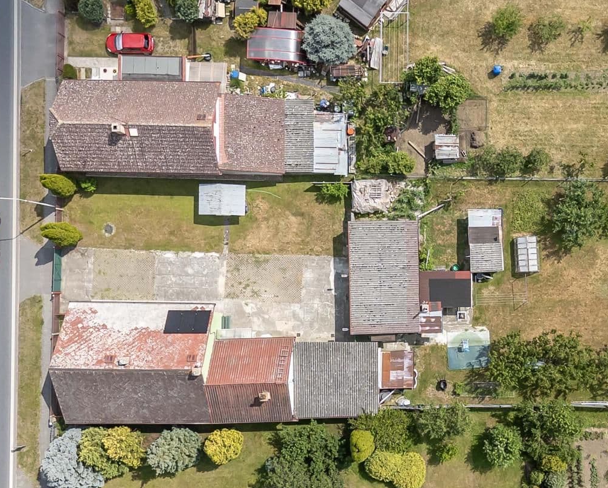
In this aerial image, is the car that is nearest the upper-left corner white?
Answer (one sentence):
No, the color of the car that is nearest the upper-left corner is red.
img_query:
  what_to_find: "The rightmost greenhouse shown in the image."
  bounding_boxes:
[513,237,540,273]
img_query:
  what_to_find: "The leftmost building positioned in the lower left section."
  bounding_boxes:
[46,300,225,425]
